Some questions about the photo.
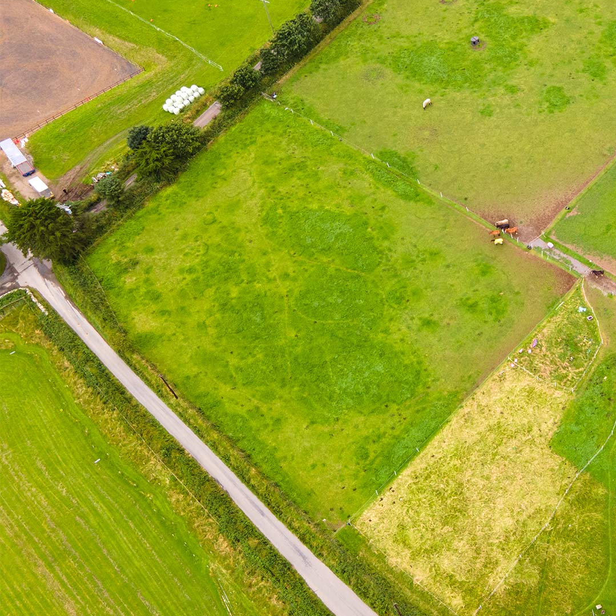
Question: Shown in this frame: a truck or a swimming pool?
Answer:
truck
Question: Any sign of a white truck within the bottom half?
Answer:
No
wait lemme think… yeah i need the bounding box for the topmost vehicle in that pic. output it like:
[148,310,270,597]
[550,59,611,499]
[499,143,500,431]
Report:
[0,139,37,180]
